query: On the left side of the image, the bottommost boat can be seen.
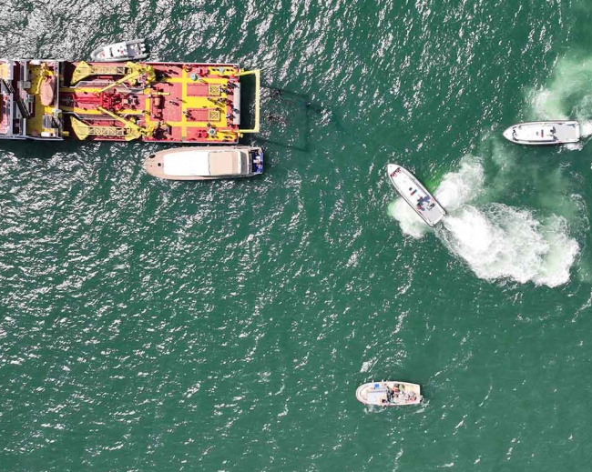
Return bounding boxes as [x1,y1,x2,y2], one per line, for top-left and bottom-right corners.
[142,145,264,180]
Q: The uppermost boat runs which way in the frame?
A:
from left to right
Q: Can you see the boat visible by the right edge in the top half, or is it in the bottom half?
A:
top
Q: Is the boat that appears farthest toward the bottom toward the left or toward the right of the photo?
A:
right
